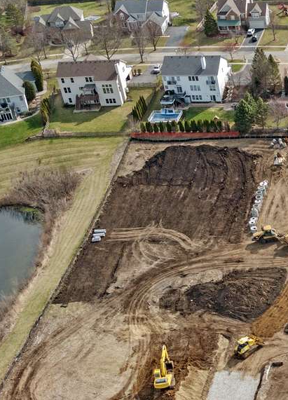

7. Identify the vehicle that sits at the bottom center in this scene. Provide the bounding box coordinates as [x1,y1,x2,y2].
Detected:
[148,339,175,399]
